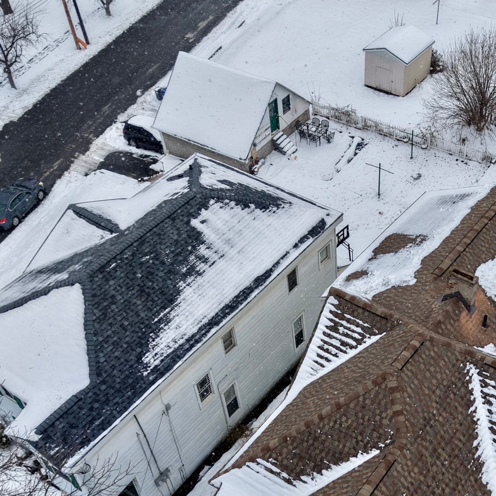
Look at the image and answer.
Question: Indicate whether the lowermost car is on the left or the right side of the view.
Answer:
left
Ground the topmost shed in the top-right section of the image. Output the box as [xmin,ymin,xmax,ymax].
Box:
[362,24,433,95]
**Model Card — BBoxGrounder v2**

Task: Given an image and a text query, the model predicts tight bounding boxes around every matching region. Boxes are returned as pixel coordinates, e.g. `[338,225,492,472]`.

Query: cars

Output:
[0,174,46,229]
[125,112,184,156]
